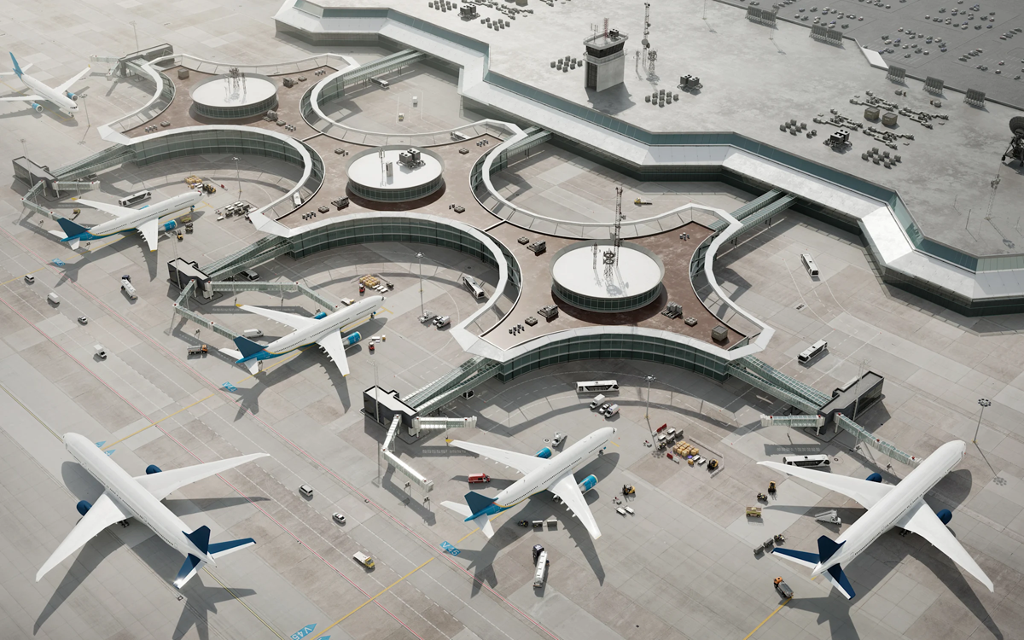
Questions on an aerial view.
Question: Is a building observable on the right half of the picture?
Yes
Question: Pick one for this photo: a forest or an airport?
airport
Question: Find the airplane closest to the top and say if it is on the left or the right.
left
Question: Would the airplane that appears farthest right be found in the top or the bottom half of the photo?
bottom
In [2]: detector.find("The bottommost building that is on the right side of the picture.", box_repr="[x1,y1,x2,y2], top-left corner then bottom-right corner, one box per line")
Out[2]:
[804,373,886,443]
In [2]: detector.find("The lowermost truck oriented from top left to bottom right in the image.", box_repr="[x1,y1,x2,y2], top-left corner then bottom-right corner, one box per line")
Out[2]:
[771,575,796,601]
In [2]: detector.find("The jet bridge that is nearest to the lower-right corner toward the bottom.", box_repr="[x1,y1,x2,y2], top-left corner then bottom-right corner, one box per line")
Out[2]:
[836,413,928,469]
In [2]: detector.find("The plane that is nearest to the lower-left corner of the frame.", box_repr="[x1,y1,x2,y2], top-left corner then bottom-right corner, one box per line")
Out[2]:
[34,430,267,586]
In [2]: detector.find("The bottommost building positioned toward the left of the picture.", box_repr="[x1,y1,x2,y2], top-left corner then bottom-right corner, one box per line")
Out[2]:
[360,386,431,444]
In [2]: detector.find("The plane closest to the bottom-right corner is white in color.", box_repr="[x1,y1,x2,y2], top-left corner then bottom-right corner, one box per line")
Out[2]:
[757,440,991,598]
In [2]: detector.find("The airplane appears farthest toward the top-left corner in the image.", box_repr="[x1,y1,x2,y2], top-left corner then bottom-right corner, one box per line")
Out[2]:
[0,52,91,115]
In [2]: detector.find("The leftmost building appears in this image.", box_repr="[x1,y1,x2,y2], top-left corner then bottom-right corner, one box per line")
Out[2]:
[13,158,70,202]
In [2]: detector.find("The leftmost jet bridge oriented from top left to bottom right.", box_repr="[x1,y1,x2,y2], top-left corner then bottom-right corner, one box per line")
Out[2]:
[17,180,87,230]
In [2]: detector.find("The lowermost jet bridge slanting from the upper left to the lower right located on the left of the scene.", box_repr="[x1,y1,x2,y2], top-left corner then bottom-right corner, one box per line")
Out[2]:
[378,414,440,498]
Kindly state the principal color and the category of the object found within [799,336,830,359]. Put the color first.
white bus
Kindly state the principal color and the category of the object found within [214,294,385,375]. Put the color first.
white airplane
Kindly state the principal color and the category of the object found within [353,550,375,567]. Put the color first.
white vehicle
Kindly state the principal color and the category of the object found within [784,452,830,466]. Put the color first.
white vehicle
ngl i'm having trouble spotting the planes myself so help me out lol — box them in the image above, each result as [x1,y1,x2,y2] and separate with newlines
[34,430,267,586]
[436,425,616,537]
[757,440,991,598]
[42,191,202,252]
[0,52,91,115]
[214,294,385,375]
